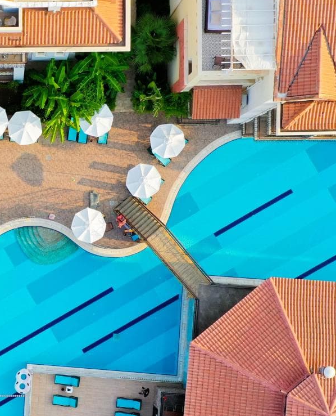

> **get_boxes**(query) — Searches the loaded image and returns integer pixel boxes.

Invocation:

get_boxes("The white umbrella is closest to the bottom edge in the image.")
[67,207,104,243]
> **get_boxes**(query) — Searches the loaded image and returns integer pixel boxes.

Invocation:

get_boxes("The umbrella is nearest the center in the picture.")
[124,164,159,198]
